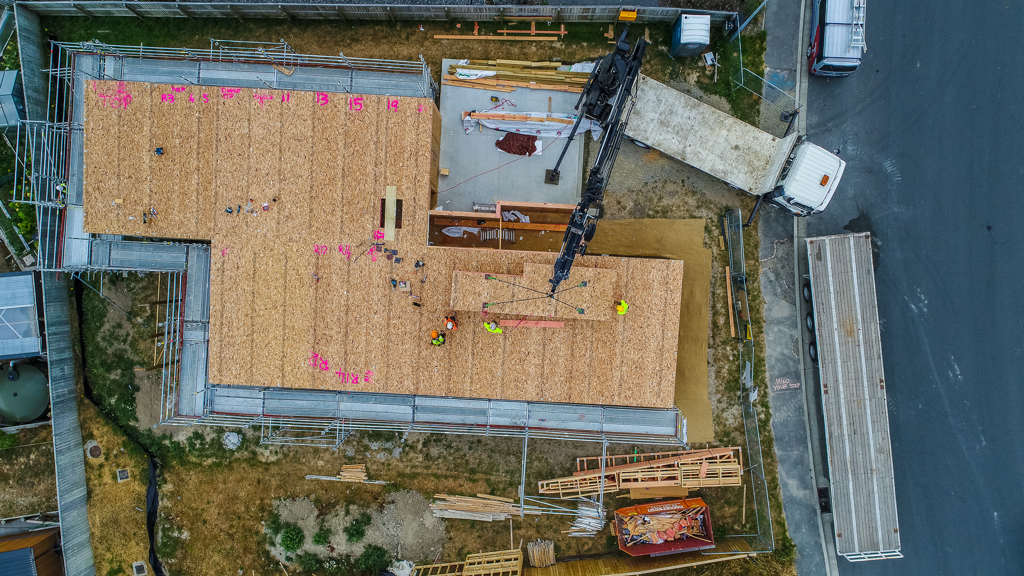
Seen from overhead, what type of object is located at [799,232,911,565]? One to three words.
trailer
